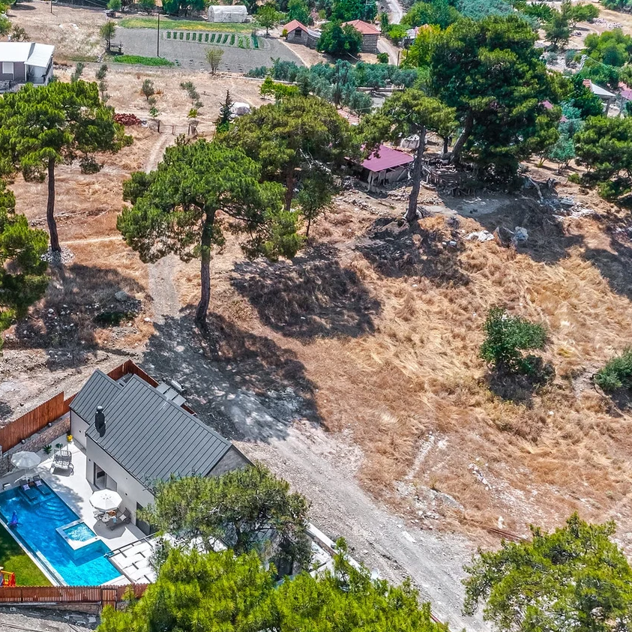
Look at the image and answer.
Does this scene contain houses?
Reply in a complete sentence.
Yes, the picture does show a house.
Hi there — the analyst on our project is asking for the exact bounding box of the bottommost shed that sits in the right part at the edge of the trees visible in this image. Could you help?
[356,145,414,198]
